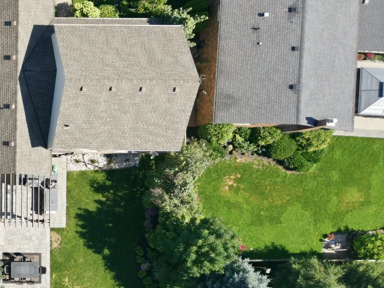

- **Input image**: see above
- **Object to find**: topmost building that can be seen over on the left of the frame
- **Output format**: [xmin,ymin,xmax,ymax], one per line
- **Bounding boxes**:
[0,0,201,176]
